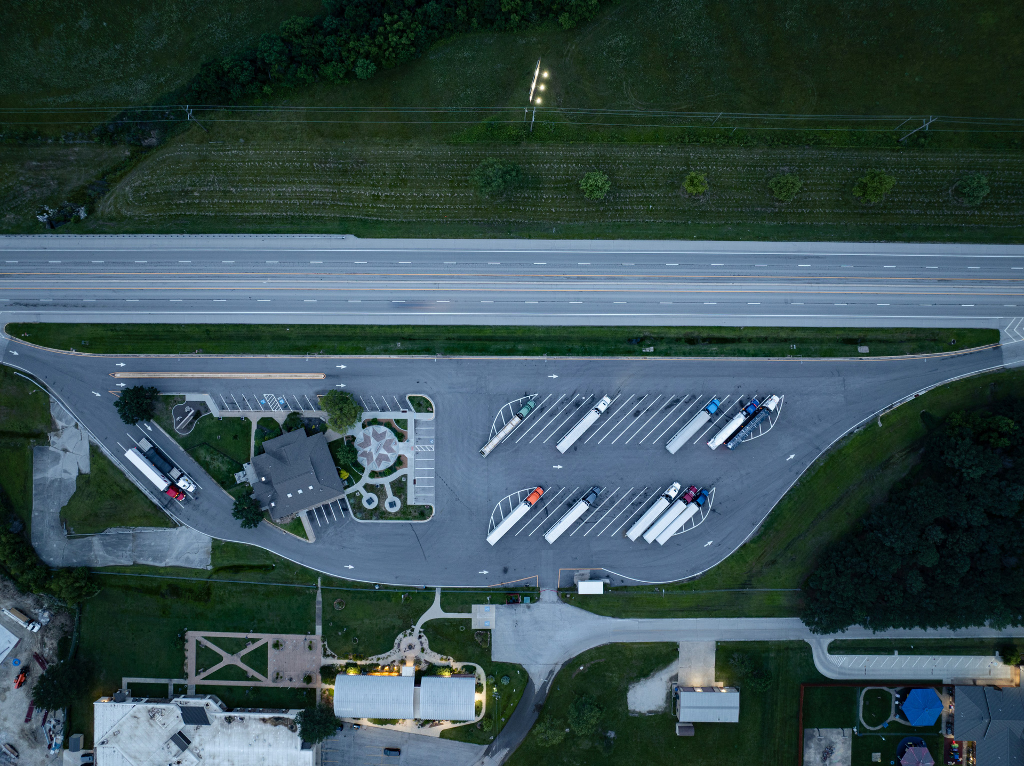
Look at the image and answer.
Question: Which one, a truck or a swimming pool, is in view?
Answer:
truck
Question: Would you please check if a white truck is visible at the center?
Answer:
Yes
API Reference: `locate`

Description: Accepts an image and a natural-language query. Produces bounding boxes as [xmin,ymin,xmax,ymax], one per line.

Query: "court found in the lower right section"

[803,729,852,766]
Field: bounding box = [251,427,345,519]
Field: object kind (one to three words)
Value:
building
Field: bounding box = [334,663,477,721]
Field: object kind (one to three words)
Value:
building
